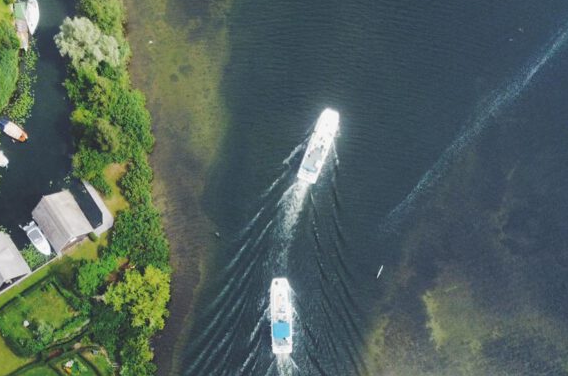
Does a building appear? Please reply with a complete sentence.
Yes, there's a building down there.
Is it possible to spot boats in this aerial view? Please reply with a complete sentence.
Yes, the photo shows a boat.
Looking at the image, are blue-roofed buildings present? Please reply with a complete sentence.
No, there's no blue-roofed building here.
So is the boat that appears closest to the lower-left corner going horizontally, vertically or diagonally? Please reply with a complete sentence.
The boat that appears closest to the lower-left corner runs diagonally in the image.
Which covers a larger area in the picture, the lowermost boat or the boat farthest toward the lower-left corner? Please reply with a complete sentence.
The lowermost boat is bigger than the boat farthest toward the lower-left corner.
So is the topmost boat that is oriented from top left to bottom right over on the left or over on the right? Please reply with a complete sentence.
The topmost boat that is oriented from top left to bottom right is on the left side of the image.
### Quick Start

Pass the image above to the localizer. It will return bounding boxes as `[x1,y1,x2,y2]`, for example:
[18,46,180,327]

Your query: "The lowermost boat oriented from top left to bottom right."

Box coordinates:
[19,218,50,254]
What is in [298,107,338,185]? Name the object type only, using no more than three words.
boat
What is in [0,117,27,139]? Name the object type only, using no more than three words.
boat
